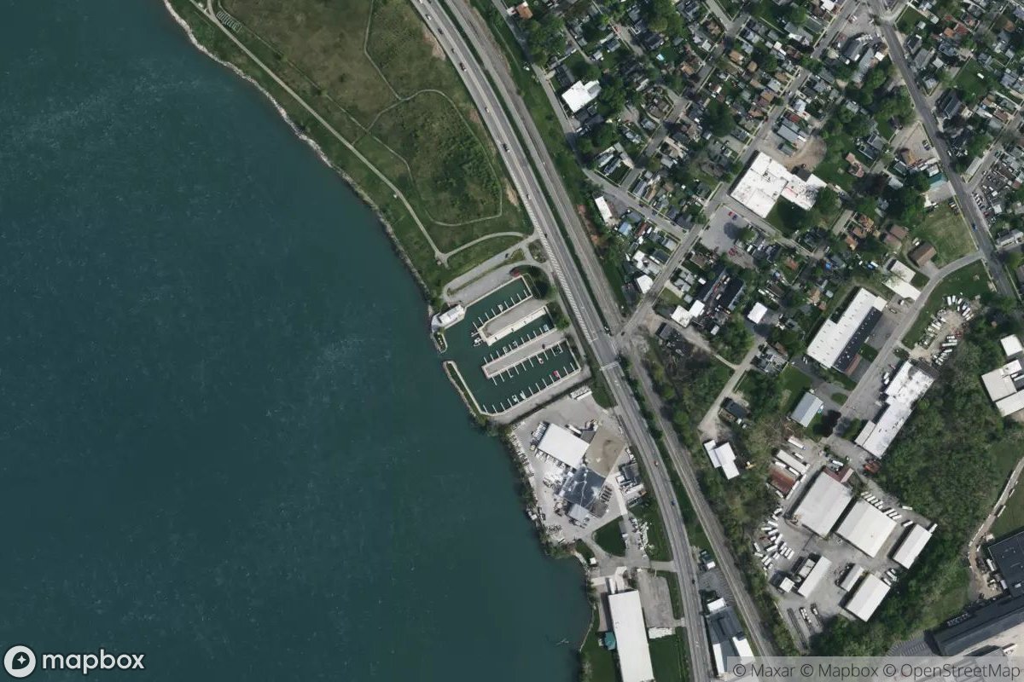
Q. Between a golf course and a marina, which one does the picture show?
marina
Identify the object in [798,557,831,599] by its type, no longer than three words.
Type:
shed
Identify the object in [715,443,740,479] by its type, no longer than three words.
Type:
house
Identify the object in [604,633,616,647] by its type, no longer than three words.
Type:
gazebo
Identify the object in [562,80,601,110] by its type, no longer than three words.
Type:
building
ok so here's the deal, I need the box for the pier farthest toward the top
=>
[471,290,549,345]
